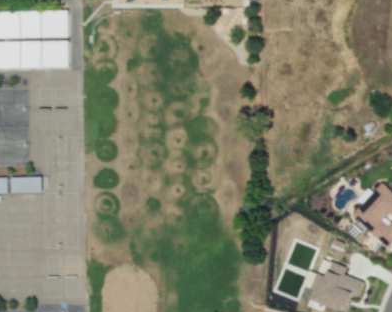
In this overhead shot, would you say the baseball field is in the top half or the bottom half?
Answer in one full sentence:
You can find the baseball field in the bottom half.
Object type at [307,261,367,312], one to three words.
house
